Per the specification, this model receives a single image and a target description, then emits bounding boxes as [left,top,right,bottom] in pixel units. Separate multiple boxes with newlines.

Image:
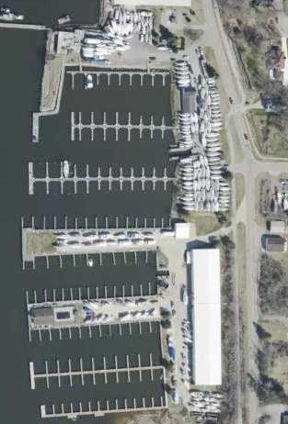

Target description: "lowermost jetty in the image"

[41,397,167,419]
